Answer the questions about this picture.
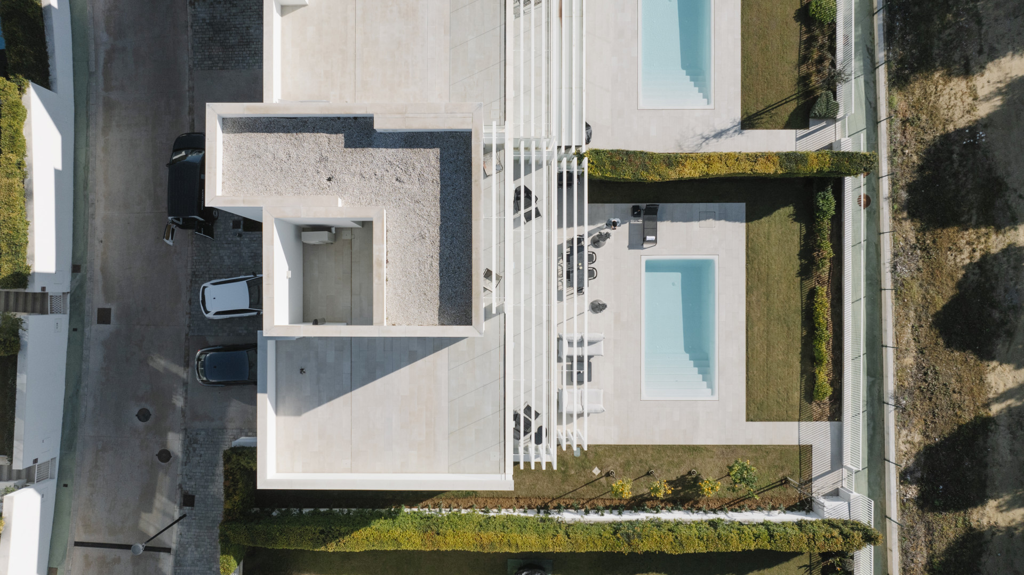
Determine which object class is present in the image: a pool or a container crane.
pool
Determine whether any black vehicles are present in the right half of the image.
No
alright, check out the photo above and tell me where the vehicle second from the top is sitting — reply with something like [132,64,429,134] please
[198,269,263,320]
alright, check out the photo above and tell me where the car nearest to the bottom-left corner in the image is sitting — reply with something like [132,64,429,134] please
[195,343,257,387]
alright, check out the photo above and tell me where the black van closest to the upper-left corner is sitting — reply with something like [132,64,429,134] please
[160,134,220,240]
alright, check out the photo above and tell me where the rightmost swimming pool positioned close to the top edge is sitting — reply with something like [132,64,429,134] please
[638,0,714,109]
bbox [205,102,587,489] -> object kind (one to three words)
house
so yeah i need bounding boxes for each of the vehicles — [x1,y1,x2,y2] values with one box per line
[195,343,257,387]
[198,269,263,320]
[160,134,220,240]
